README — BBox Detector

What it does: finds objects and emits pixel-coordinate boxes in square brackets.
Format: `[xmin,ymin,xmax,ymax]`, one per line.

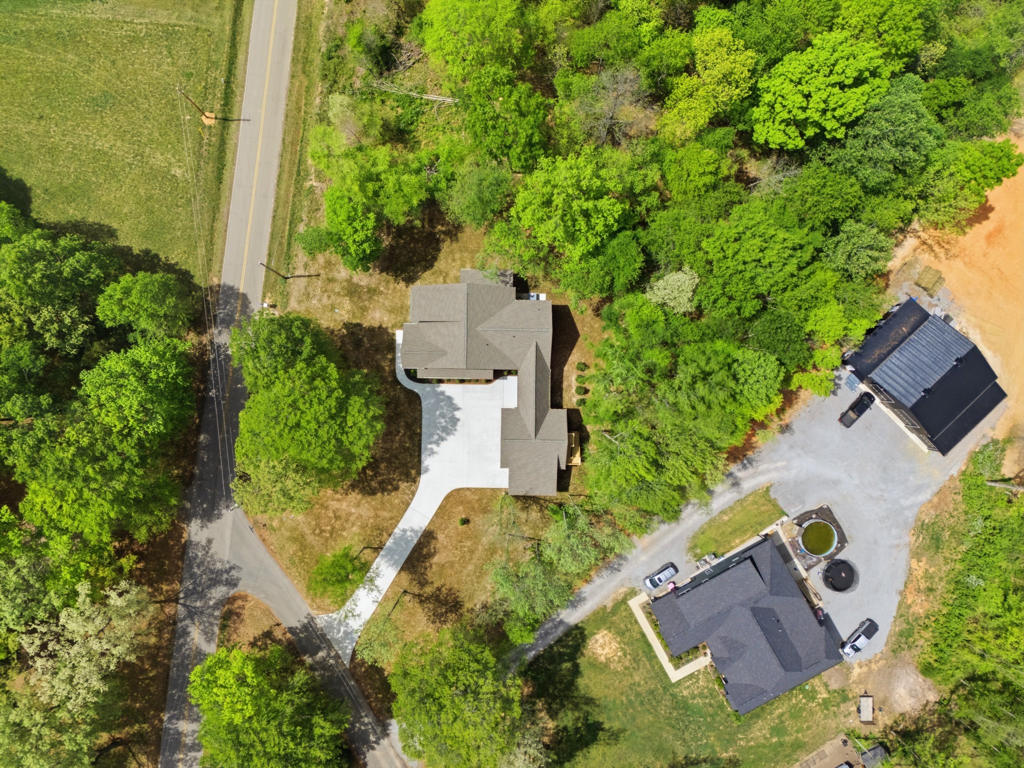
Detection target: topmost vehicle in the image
[837,388,880,433]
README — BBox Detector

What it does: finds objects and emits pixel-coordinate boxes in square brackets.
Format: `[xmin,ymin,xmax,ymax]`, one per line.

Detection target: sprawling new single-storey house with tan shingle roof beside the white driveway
[400,269,568,496]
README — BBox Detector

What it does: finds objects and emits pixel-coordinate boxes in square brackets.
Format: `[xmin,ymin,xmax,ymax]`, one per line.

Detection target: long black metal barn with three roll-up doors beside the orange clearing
[844,297,1007,456]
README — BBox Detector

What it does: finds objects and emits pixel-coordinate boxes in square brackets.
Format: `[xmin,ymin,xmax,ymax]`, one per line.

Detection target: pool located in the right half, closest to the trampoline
[799,518,841,558]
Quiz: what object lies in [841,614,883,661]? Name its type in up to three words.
truck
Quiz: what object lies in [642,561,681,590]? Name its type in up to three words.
car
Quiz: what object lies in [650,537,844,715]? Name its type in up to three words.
house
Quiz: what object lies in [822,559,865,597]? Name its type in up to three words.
trampoline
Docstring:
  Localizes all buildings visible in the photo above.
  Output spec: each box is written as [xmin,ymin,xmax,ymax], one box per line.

[650,537,844,715]
[400,269,568,496]
[844,297,1007,456]
[853,737,888,768]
